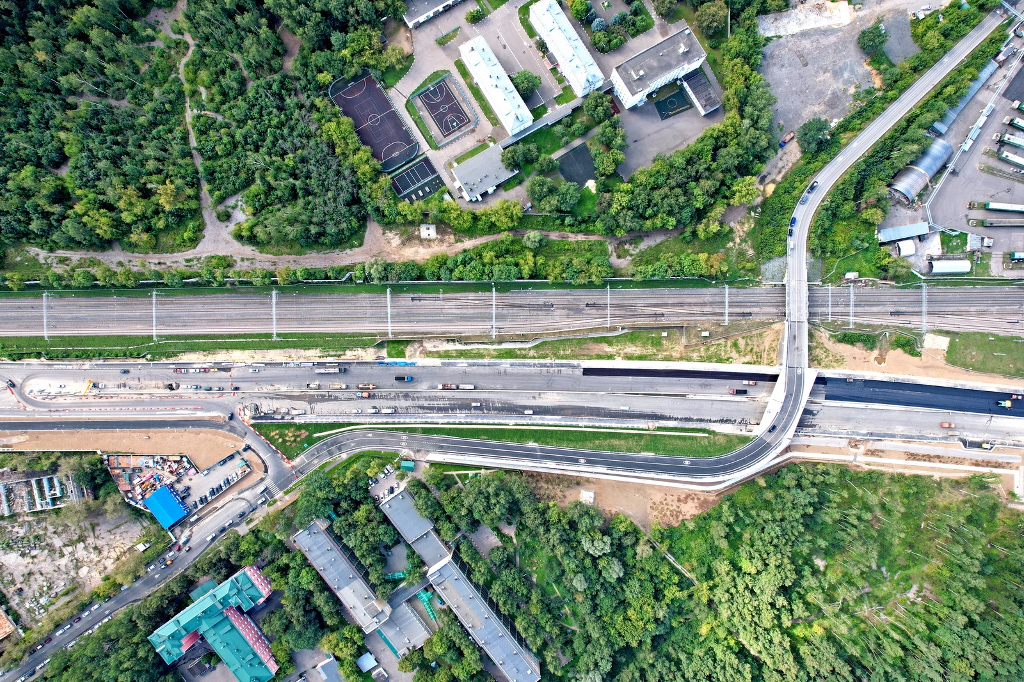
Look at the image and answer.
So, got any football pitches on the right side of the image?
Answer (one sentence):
No, there's no football pitch to be seen on the right side of the image.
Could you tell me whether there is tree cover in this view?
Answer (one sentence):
Yes, some tree cover is visible.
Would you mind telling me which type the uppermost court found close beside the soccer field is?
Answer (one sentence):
I'd say the uppermost court found close beside the soccer field is a basketball court.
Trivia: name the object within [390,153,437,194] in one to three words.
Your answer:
sports court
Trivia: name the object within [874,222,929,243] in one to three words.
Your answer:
shed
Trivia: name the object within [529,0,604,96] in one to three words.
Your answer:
building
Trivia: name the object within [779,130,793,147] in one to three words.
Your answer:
vehicle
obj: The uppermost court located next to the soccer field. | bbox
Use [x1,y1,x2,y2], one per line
[409,71,475,146]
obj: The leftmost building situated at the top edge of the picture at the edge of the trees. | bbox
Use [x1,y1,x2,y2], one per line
[403,0,459,28]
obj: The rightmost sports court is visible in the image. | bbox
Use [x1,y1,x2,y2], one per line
[656,90,694,120]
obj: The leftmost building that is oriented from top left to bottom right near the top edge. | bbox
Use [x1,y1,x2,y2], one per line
[458,34,533,136]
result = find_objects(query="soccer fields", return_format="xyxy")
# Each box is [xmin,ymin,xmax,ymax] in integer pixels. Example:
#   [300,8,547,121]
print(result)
[327,65,418,170]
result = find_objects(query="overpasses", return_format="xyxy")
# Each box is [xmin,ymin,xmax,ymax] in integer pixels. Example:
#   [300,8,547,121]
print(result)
[744,279,823,461]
